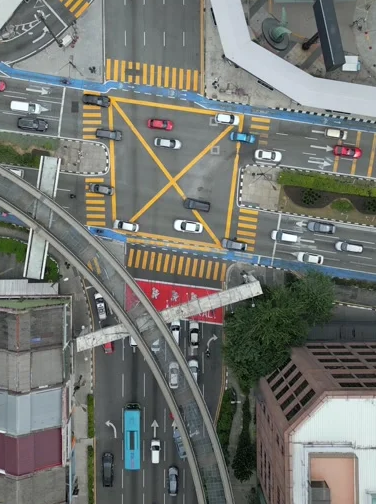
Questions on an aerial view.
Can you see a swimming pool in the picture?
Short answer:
No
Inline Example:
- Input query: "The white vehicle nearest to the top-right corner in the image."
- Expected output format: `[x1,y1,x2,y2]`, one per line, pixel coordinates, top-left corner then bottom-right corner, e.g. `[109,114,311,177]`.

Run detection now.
[323,128,348,141]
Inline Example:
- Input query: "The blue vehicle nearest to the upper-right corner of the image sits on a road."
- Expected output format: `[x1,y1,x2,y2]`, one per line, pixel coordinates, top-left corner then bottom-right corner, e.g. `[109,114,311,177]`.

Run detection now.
[229,132,256,145]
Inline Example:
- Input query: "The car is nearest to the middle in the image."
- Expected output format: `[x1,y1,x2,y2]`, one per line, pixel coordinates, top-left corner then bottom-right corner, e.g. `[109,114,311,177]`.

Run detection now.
[173,219,203,233]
